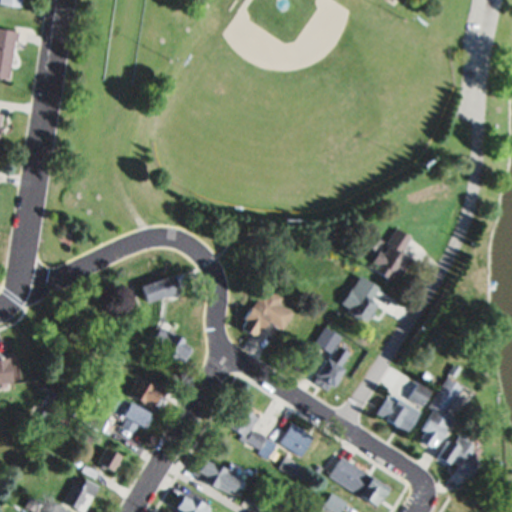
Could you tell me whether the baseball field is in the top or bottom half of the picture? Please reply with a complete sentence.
It is in the top half that the baseball field appears.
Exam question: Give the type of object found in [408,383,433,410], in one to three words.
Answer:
building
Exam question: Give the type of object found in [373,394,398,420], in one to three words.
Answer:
building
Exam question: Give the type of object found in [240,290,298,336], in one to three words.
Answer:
house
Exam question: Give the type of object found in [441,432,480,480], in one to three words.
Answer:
house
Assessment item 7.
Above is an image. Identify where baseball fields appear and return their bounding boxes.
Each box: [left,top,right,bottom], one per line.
[152,0,454,213]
